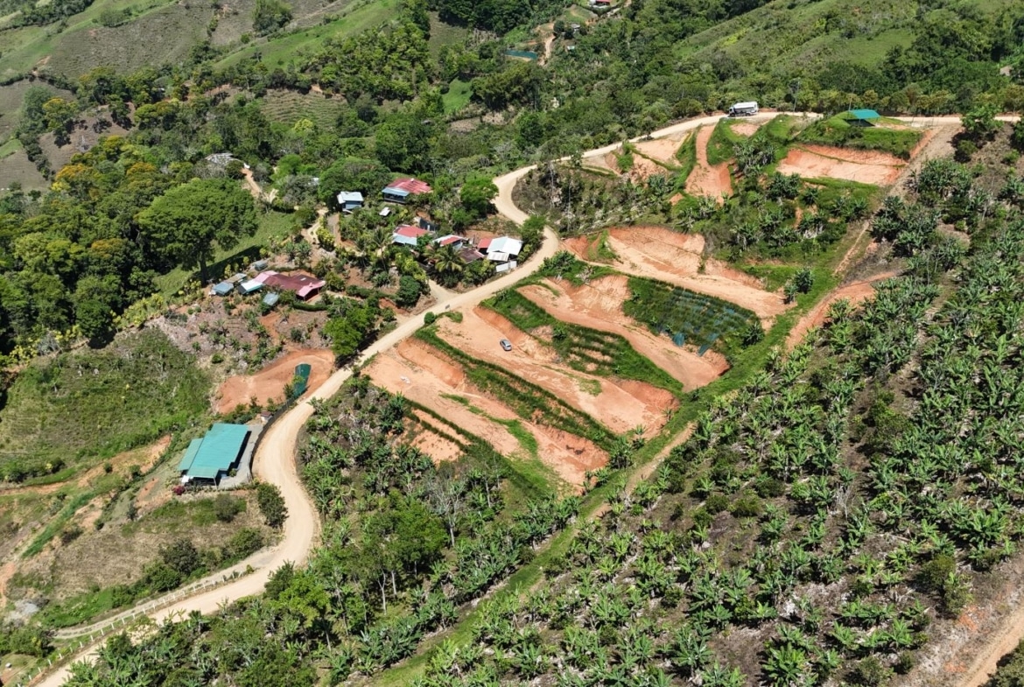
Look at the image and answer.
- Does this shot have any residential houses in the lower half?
Yes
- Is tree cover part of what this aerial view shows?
Yes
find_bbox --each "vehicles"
[499,337,513,349]
[729,104,758,117]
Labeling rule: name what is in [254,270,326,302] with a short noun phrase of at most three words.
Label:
house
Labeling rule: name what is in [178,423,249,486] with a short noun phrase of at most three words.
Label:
house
